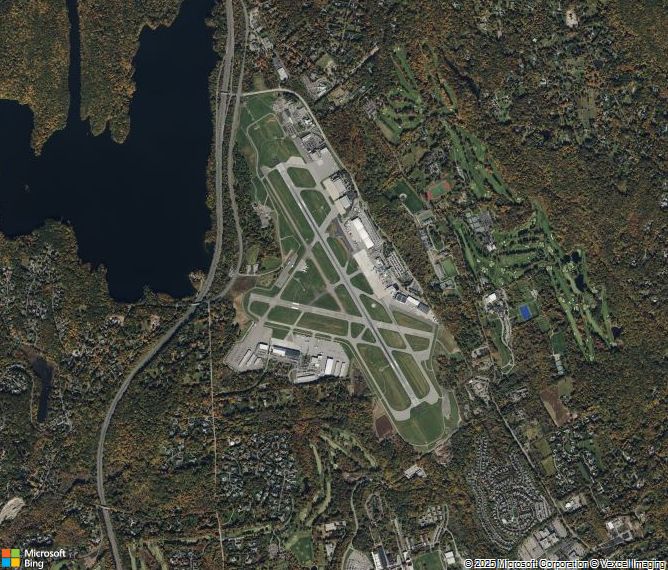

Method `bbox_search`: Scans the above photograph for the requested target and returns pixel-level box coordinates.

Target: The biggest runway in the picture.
[277,162,421,405]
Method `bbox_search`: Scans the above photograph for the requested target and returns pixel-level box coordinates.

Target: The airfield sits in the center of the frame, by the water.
[223,91,460,453]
